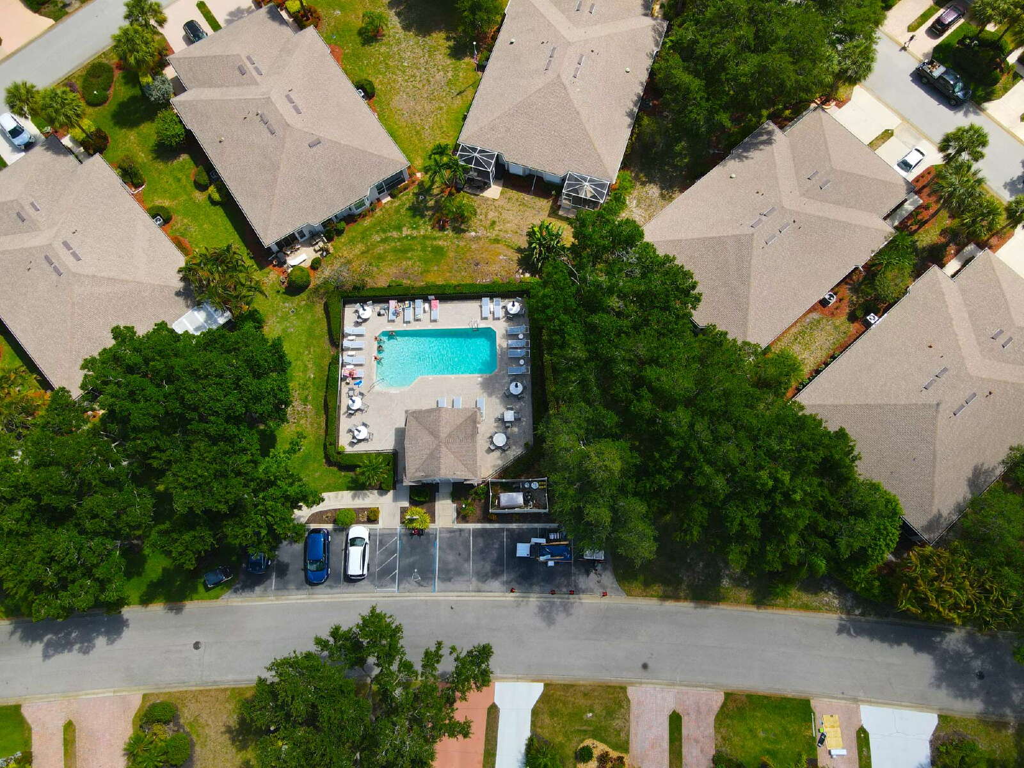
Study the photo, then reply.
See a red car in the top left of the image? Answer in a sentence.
No, the scene shows no red car in the top left of the image.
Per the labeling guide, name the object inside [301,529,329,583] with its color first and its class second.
blue car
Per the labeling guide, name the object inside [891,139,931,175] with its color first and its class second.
white car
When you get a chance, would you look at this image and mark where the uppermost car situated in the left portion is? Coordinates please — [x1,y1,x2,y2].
[183,19,207,46]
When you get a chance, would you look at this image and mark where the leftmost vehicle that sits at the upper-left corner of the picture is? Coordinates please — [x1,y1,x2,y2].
[0,111,33,150]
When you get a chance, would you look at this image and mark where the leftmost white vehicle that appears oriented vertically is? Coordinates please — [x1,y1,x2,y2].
[344,525,370,580]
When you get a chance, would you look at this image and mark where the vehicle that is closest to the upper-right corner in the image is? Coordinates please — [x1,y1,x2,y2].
[933,0,972,33]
